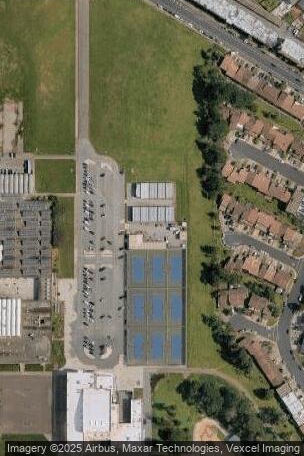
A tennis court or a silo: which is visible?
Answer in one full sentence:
This aerial view contains a tennis court.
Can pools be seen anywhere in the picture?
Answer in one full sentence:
No, the picture doesn't show any pool.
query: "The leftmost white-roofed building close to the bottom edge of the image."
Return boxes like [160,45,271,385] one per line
[66,372,143,456]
